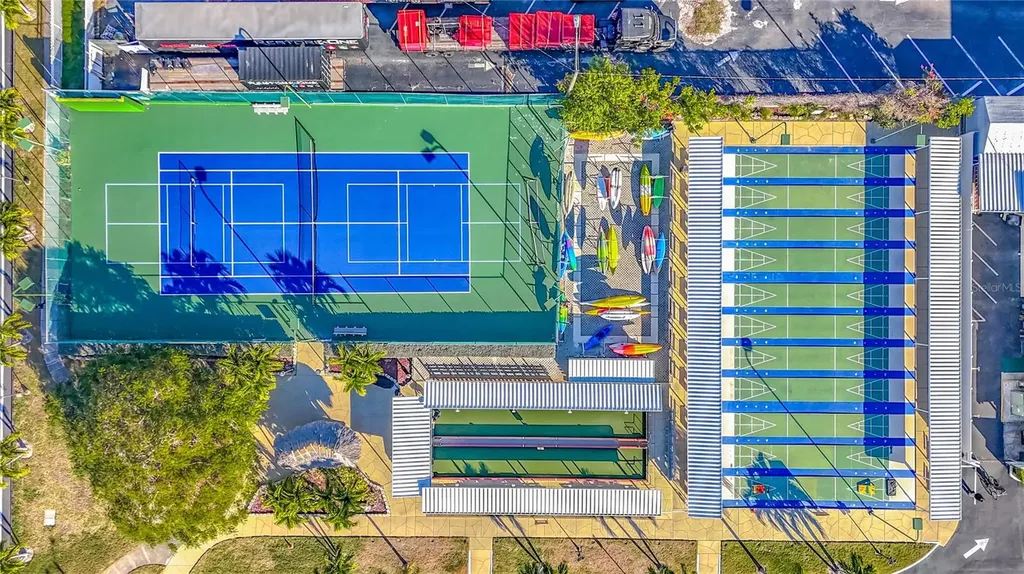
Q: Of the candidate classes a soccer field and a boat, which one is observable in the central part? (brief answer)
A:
boat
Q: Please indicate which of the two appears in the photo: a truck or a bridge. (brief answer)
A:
truck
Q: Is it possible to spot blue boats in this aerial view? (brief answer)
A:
Yes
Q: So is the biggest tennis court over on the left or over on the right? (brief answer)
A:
left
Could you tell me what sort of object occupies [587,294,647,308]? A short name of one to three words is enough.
boat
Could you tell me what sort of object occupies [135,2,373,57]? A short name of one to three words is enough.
trailer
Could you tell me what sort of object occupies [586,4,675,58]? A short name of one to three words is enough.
truck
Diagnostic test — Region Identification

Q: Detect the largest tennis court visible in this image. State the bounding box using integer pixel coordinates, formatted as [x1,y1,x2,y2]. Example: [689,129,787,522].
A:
[61,95,559,343]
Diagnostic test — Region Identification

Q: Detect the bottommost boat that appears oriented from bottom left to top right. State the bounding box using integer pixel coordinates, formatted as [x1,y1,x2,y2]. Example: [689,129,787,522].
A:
[586,325,612,349]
